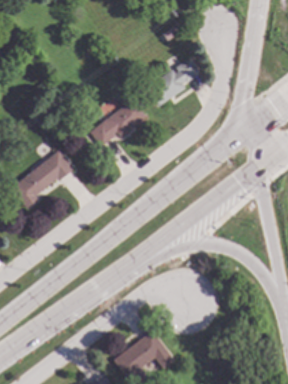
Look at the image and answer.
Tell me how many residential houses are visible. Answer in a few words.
four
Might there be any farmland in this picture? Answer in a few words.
No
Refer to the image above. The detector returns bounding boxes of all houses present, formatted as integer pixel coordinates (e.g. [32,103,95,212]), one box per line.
[90,98,146,146]
[115,330,174,378]
[18,150,73,208]
[152,58,200,108]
